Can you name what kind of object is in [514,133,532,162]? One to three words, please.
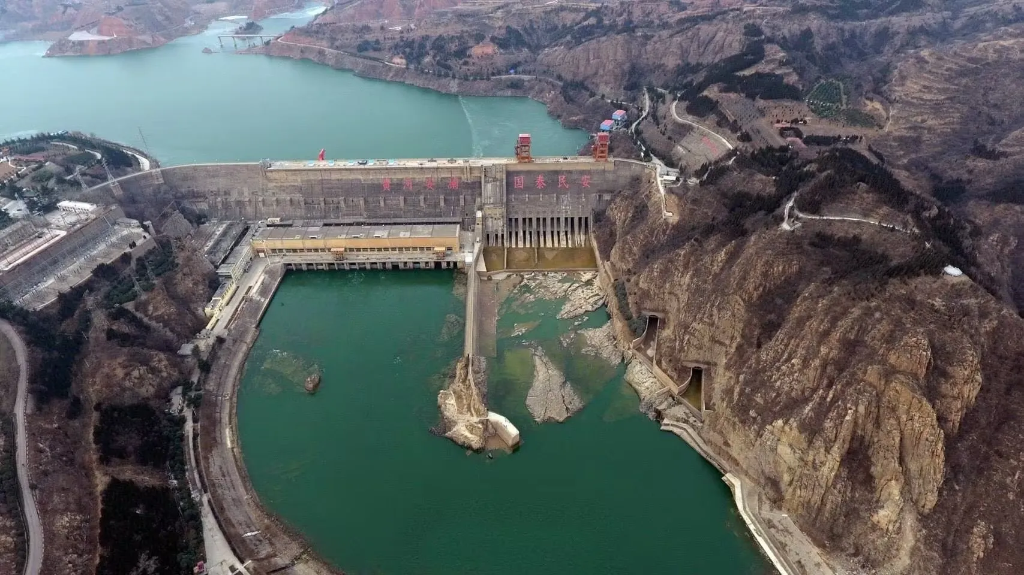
container crane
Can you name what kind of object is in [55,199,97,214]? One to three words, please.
building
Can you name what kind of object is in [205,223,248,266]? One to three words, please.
building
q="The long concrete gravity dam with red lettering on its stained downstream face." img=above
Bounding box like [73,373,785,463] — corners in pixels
[74,154,660,248]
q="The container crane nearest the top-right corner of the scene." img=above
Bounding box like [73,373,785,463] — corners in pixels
[592,132,611,161]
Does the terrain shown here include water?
Yes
